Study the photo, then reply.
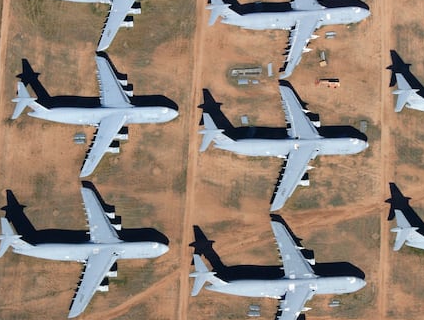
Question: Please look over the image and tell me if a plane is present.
Yes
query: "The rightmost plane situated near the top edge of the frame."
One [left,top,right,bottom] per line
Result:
[206,0,370,79]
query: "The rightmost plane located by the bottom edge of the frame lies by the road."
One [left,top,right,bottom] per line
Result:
[189,223,367,320]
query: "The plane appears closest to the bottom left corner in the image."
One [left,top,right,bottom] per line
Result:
[0,188,170,318]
